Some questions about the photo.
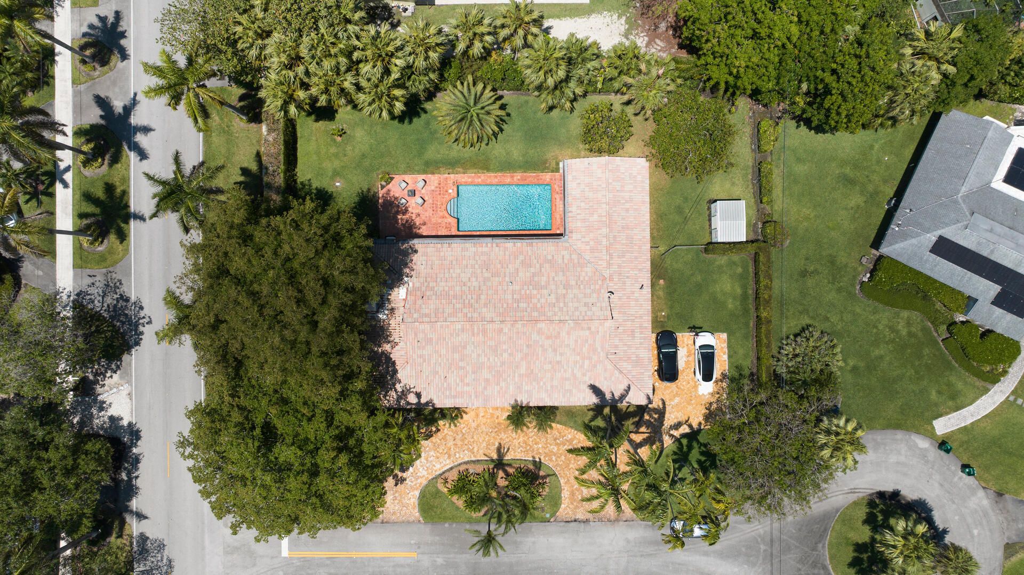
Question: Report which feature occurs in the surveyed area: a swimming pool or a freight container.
swimming pool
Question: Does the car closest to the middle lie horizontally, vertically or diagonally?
vertically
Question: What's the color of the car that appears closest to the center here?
black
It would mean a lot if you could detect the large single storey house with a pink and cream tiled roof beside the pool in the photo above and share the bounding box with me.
[367,156,652,407]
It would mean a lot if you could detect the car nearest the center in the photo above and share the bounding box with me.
[654,330,680,383]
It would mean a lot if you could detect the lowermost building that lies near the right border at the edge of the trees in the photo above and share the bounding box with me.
[875,109,1024,326]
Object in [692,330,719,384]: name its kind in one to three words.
car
